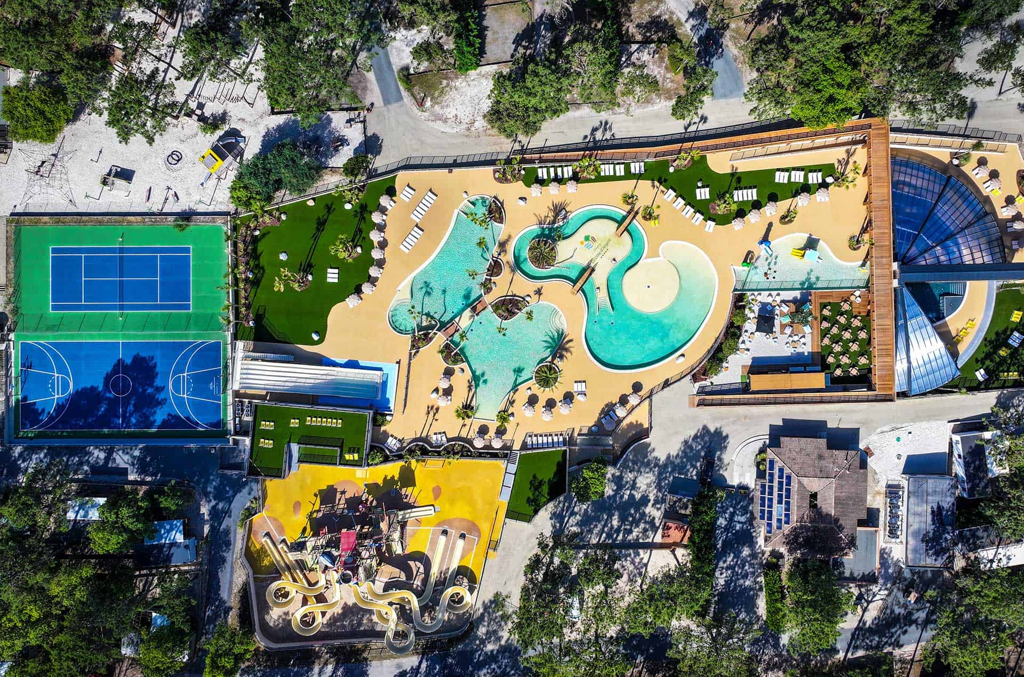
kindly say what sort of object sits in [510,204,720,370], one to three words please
swimming pool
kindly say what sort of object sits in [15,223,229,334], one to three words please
tennis court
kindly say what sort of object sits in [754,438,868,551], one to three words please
house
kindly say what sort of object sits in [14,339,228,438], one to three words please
basketball court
